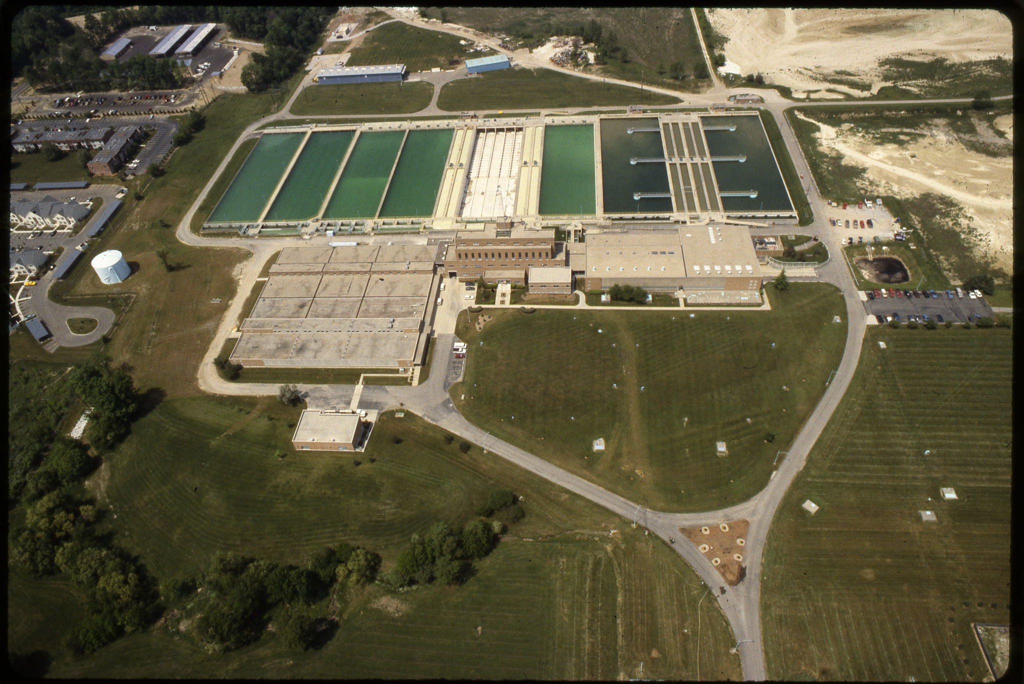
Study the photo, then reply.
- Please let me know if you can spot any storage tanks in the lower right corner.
No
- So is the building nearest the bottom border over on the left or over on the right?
left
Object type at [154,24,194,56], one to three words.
shed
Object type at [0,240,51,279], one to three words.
house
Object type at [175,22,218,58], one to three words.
shed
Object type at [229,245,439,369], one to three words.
building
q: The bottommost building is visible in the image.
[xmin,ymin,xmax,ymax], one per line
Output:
[292,409,364,452]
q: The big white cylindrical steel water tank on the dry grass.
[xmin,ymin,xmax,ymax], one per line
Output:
[94,248,135,286]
